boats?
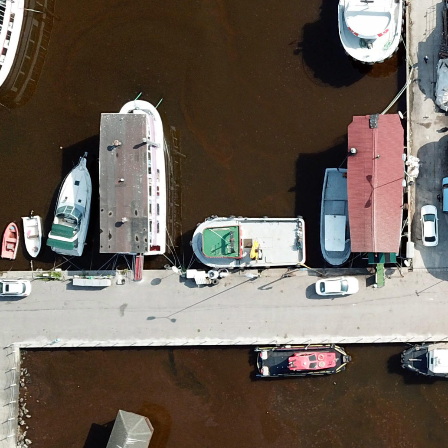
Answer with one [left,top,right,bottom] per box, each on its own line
[0,0,24,89]
[181,215,322,273]
[320,156,351,265]
[257,337,351,375]
[348,79,410,271]
[1,222,20,271]
[48,151,99,270]
[97,92,180,270]
[399,338,448,377]
[23,213,42,270]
